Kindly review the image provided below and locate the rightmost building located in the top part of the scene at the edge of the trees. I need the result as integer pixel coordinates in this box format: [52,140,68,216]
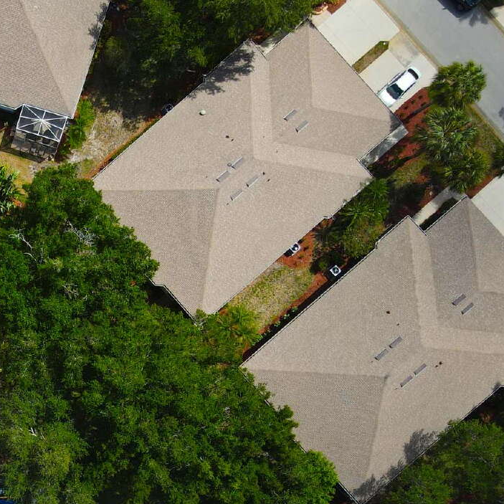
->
[74,22,401,328]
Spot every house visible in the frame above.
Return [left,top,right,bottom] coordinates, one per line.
[0,0,110,120]
[236,195,504,504]
[74,22,401,328]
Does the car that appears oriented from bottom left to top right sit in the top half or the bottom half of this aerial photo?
top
